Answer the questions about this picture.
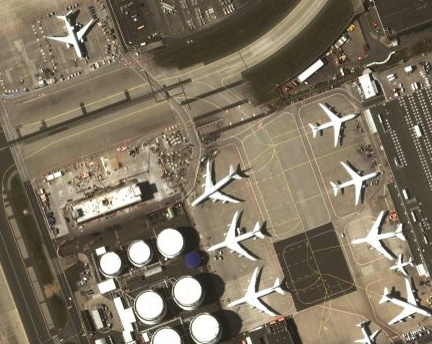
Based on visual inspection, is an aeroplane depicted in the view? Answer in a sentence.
Yes, an aeroplane can be made out from above.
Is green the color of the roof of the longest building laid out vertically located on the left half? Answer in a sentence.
No, the roof of the longest building laid out vertically located on the left half is actually white.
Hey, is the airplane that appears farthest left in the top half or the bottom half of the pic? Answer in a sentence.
The top half of the photo is where the airplane that appears farthest left is.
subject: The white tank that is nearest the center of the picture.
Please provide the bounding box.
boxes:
[155,228,185,259]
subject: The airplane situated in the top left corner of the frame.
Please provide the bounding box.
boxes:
[44,10,94,58]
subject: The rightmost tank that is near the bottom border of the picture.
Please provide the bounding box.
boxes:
[189,314,221,344]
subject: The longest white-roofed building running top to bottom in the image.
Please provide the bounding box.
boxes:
[114,296,136,343]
